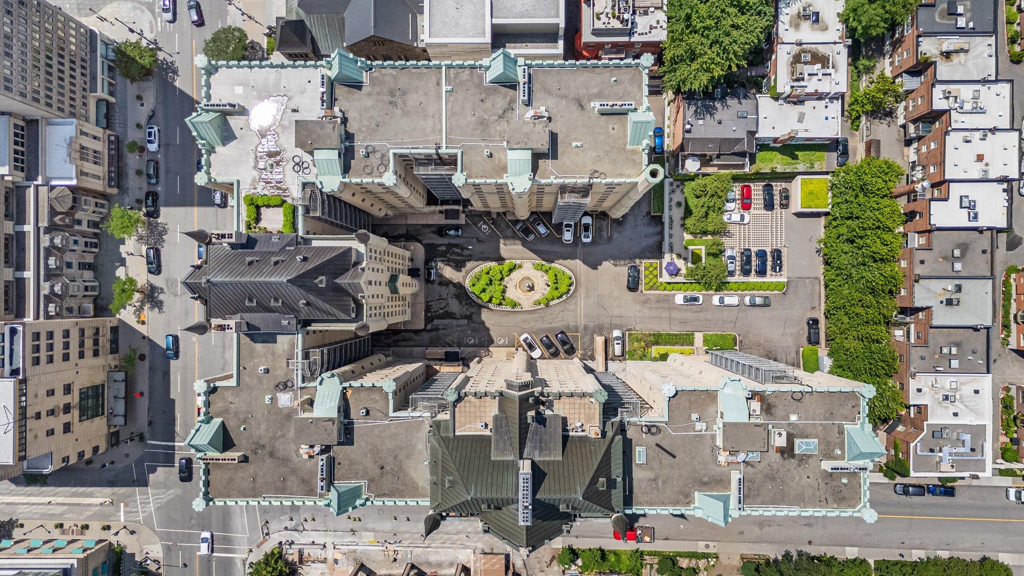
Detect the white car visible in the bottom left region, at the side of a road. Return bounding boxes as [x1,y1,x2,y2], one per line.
[199,528,213,557]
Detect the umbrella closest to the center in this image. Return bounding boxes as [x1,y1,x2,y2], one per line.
[663,262,677,274]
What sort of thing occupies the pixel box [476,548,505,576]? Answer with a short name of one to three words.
building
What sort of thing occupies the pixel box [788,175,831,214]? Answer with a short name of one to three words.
building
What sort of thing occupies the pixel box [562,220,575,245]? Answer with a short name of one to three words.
vehicle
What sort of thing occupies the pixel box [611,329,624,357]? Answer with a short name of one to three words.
vehicle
